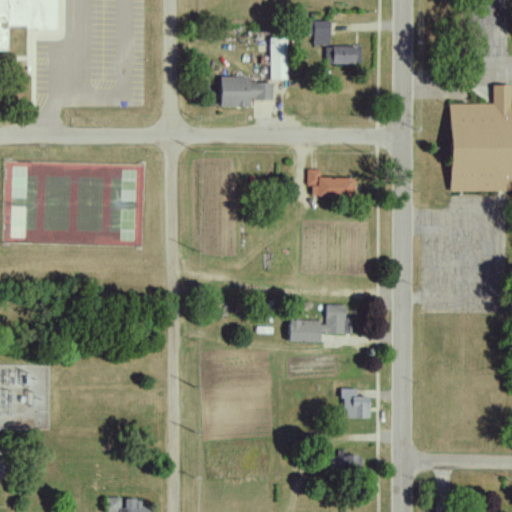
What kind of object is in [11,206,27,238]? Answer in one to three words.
sports court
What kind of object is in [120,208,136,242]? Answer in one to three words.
sports court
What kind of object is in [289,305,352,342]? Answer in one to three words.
house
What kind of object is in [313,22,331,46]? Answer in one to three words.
building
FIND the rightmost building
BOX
[450,86,512,192]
